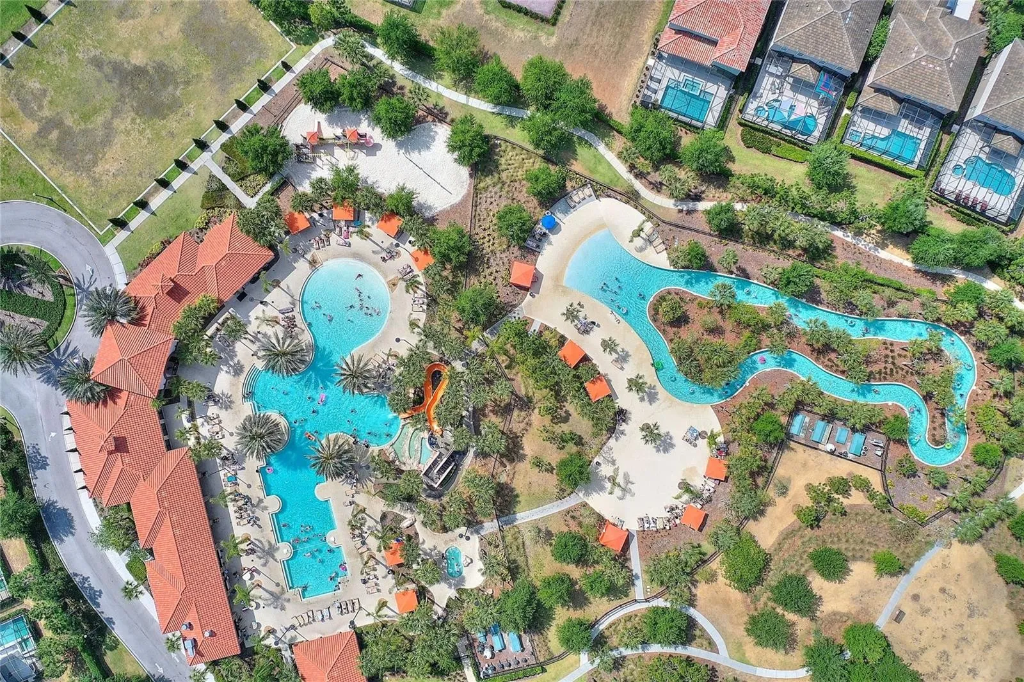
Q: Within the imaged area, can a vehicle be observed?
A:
No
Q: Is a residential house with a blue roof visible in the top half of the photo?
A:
No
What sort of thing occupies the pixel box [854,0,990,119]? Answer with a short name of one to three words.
house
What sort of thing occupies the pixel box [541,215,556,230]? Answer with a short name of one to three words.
umbrella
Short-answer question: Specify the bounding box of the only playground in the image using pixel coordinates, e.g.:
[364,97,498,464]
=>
[296,123,375,161]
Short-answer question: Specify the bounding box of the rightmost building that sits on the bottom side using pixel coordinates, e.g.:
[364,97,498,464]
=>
[292,626,370,682]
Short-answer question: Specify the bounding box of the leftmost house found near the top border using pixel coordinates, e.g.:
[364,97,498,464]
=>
[658,0,774,79]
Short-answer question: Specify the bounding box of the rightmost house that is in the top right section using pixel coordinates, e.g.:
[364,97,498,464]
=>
[949,37,1024,157]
